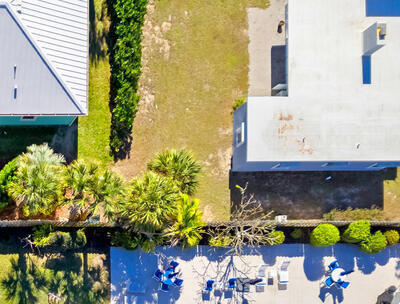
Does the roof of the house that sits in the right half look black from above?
No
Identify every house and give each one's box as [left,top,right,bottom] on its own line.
[0,0,90,125]
[233,0,400,170]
